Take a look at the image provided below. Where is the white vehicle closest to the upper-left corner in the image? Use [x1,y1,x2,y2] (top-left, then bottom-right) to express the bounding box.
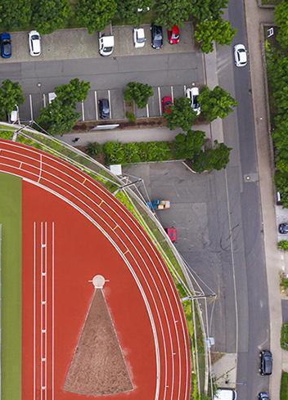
[28,30,42,56]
